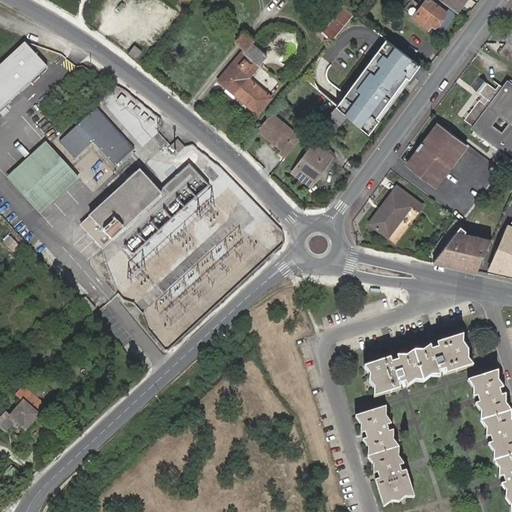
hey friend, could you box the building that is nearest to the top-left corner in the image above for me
[0,41,48,116]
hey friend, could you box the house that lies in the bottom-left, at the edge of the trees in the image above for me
[0,388,41,432]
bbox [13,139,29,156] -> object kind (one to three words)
vehicle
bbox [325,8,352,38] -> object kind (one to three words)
shed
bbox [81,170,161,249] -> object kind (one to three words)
building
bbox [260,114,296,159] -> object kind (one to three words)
house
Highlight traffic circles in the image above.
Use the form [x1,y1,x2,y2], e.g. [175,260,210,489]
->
[277,205,362,279]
